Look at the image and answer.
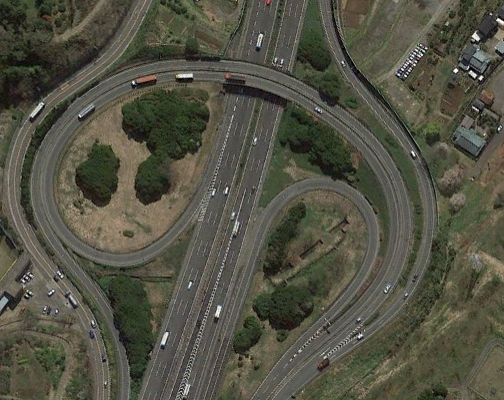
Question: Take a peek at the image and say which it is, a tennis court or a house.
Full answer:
Looking from above, you can make out a house.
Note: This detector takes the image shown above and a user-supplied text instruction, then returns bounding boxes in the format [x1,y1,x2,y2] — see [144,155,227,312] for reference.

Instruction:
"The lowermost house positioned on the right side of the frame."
[451,123,488,156]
